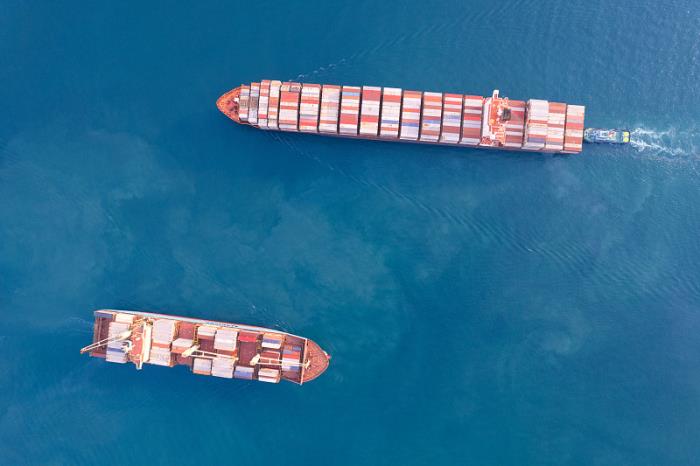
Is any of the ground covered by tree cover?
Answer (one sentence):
No, the scene doesn't show any tree cover.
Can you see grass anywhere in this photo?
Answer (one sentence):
No, there is no grass in the image.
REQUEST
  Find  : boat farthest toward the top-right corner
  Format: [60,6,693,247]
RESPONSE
[584,128,630,145]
